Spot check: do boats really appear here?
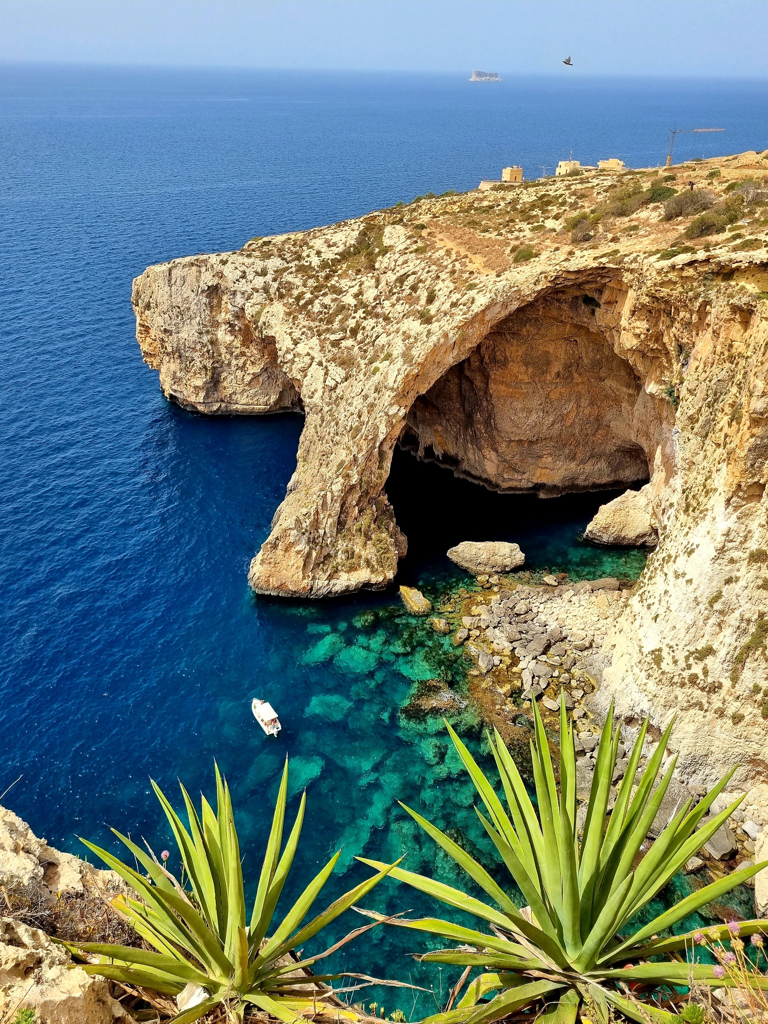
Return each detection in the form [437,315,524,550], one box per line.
[253,698,282,740]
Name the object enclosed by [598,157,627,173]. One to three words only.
house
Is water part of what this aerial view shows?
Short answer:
Yes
